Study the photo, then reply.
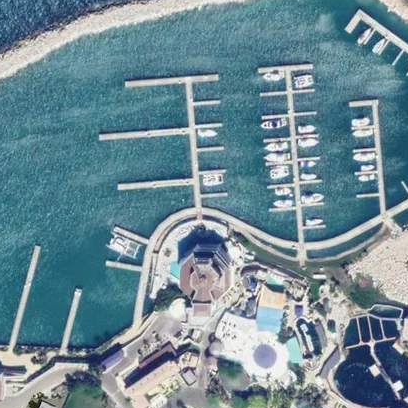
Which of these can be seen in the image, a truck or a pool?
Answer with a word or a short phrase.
pool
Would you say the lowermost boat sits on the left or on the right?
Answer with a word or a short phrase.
left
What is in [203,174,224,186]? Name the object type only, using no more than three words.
boat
